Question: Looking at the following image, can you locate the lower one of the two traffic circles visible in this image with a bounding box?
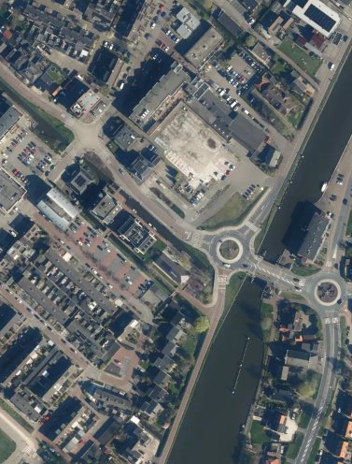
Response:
[310,275,343,307]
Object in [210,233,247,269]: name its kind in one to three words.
roundabout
